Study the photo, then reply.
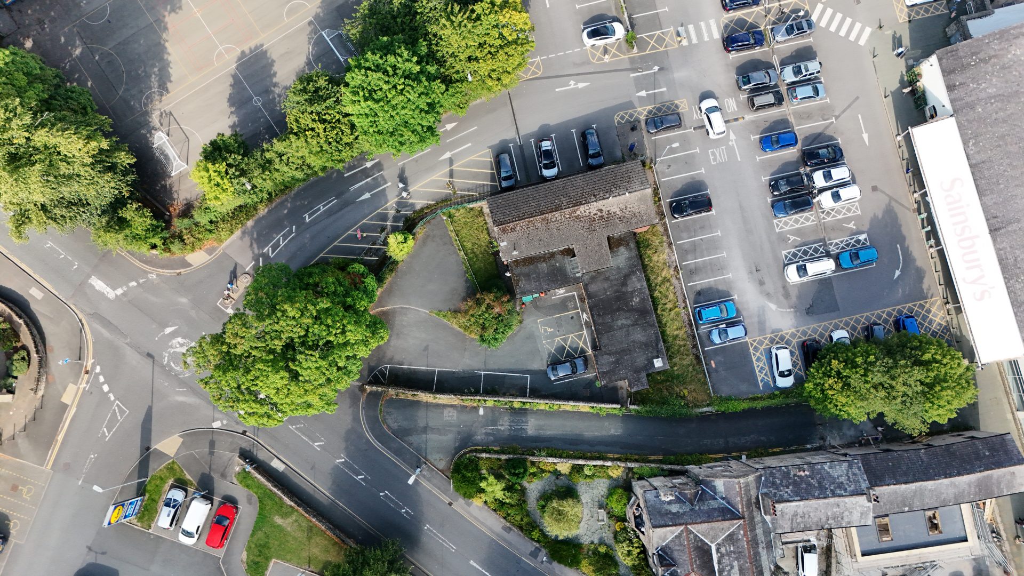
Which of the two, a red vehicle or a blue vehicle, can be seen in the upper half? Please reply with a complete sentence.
You can see a blue vehicle in the upper half.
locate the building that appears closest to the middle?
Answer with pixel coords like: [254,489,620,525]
[486,161,669,392]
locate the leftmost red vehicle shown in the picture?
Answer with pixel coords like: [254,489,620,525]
[207,502,237,548]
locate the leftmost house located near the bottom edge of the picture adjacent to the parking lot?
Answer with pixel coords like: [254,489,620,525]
[623,465,777,576]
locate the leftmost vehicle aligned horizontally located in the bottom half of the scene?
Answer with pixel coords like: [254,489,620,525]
[546,356,589,380]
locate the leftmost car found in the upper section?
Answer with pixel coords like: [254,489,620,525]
[497,153,517,189]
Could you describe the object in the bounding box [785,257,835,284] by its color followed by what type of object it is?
white car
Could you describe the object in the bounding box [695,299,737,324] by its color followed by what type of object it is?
blue car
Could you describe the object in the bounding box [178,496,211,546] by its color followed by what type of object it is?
white van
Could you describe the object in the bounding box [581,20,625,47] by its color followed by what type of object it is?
white car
